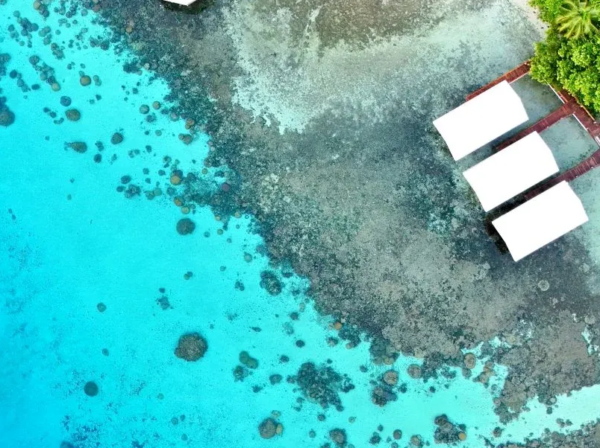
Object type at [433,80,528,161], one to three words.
house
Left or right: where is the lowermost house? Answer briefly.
right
